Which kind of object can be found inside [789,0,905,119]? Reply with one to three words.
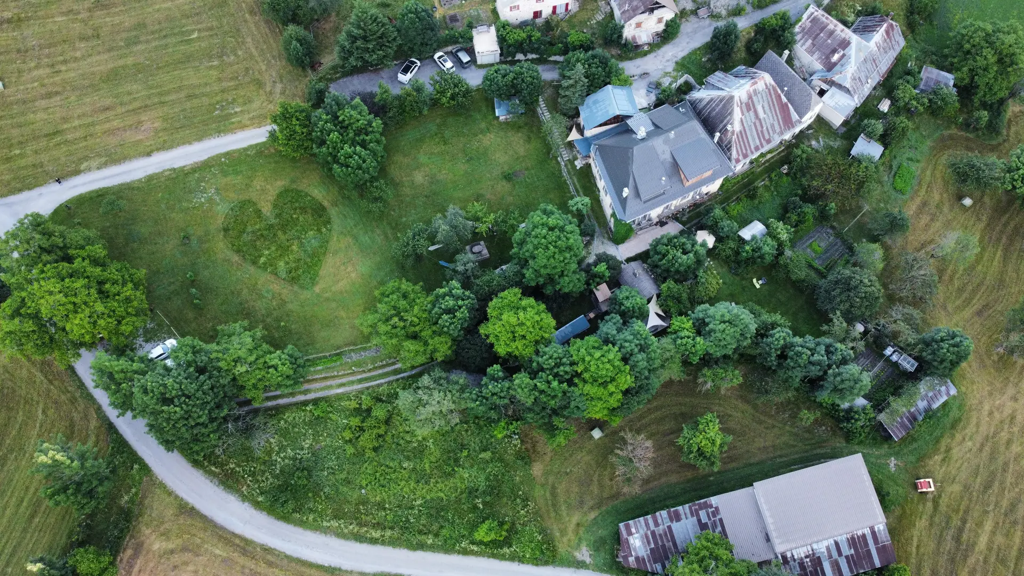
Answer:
house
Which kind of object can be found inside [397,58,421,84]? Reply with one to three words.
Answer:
car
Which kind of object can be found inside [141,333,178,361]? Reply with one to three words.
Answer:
car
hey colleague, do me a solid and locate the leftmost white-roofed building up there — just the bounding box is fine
[472,26,500,67]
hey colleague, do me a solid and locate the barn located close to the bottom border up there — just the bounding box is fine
[616,452,895,576]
